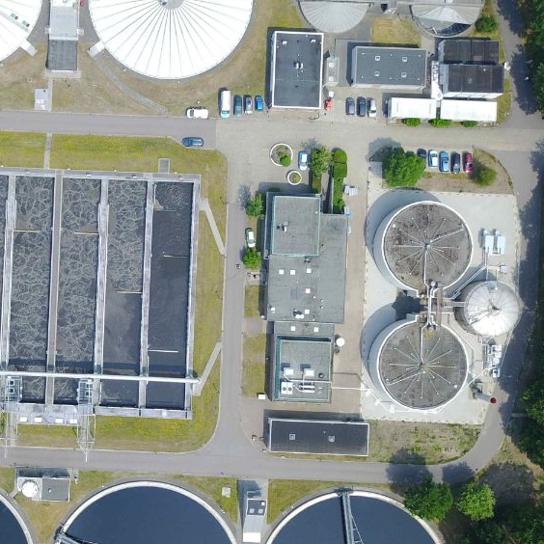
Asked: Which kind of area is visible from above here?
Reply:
industrial area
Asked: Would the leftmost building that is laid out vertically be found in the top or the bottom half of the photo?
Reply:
top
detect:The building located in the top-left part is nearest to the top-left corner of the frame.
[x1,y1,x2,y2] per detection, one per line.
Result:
[49,0,79,72]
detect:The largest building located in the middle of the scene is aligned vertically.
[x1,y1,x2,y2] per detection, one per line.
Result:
[261,192,347,403]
